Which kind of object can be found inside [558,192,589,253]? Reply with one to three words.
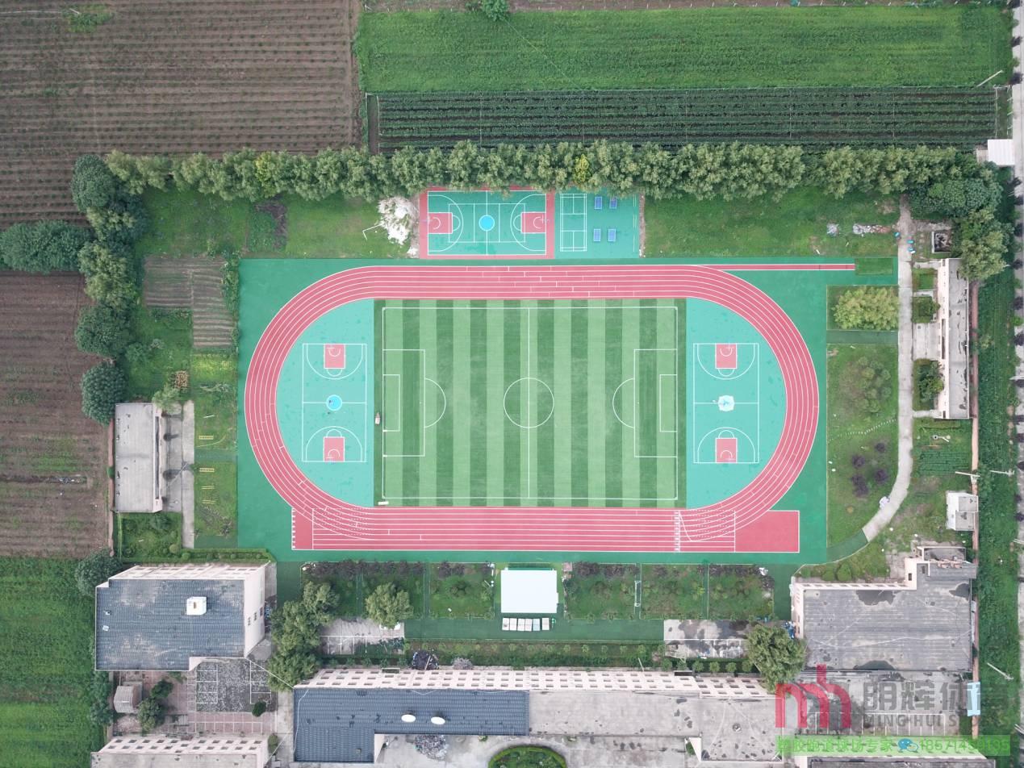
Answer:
sports court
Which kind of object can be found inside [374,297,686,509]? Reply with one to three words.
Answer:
soccer field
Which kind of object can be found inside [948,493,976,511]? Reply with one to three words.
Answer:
shed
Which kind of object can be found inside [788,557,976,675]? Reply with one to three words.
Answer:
building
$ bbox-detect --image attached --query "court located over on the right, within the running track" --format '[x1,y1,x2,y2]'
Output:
[693,343,759,463]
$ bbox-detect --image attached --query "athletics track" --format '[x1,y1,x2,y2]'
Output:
[245,263,855,553]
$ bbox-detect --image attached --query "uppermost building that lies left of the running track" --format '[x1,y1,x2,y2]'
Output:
[115,402,164,512]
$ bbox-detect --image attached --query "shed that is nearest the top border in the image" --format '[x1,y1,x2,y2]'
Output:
[972,139,1015,170]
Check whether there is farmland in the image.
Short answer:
Yes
